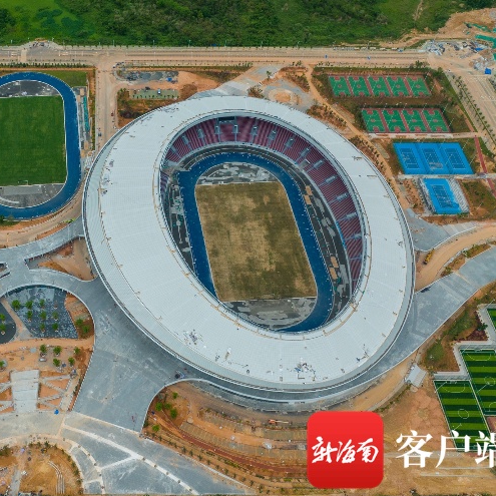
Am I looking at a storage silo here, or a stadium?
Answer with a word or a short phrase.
stadium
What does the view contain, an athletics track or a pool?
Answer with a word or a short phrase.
athletics track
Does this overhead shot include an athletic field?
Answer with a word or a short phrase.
Yes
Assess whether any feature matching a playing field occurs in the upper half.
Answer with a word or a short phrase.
Yes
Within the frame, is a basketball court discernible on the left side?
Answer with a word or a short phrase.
No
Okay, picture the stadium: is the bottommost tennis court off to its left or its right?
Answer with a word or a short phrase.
to its right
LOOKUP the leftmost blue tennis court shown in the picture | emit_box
[393,143,429,174]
